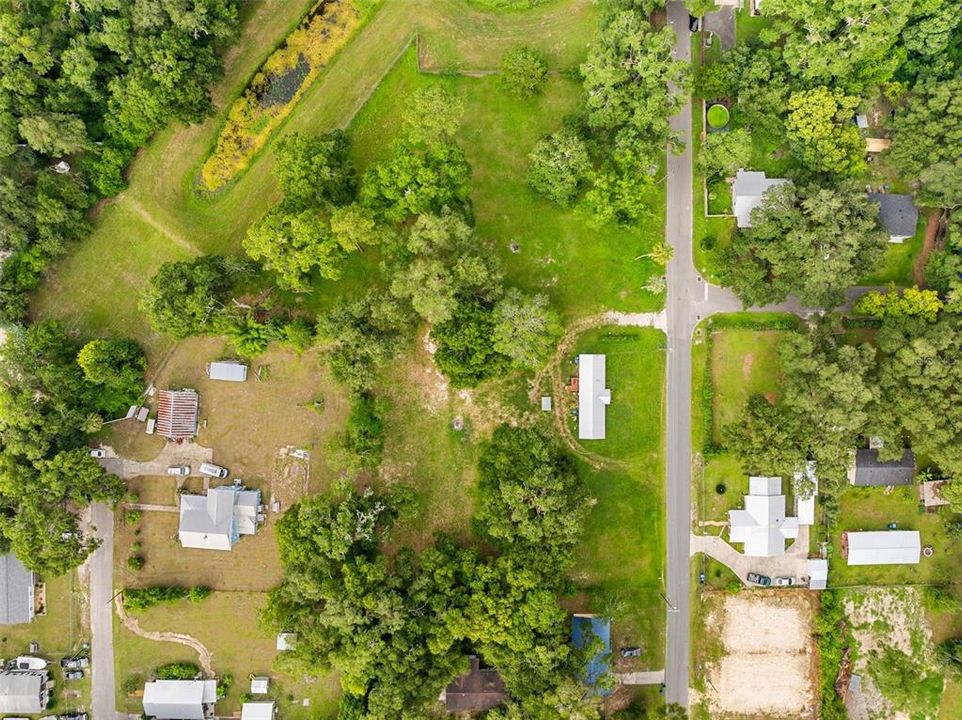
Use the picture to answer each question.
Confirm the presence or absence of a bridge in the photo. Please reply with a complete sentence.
No, there isn't any bridge down there.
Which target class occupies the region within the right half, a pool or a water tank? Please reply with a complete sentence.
The feature located within the right half is a pool.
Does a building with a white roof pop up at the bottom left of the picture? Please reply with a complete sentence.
Yes, a building with a white roof can be seen at the bottom left of the picture.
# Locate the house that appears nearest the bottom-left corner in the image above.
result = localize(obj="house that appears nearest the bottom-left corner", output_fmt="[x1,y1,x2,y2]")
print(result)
[0,668,55,713]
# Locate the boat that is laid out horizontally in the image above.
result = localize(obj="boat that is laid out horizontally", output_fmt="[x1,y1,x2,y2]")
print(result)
[13,655,57,668]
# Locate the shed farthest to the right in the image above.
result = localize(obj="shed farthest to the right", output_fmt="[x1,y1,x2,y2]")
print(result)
[921,480,954,507]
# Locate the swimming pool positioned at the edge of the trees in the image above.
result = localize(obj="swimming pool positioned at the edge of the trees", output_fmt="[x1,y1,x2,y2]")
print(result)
[704,105,730,133]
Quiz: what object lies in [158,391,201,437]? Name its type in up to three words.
building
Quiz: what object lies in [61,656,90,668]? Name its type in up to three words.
vehicle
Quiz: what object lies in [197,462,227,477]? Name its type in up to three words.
vehicle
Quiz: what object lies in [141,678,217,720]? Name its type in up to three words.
house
